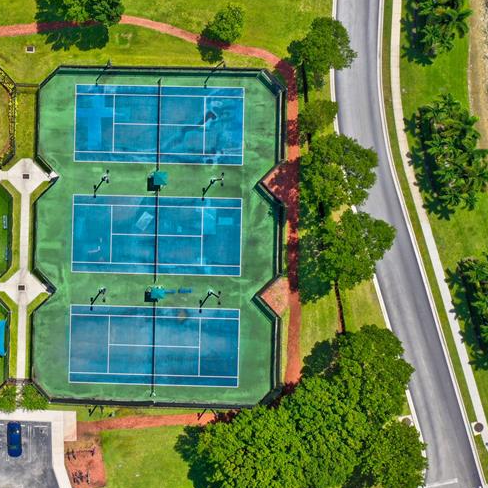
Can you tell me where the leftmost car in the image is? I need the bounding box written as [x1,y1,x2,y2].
[6,423,22,458]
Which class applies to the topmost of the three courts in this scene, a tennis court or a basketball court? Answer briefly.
tennis court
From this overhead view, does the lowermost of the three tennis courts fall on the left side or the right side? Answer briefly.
left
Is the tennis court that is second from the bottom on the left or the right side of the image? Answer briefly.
left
